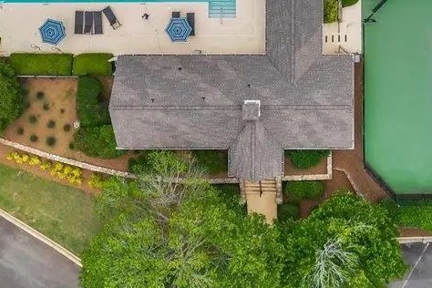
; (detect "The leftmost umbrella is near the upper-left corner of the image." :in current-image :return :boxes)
[41,18,66,45]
